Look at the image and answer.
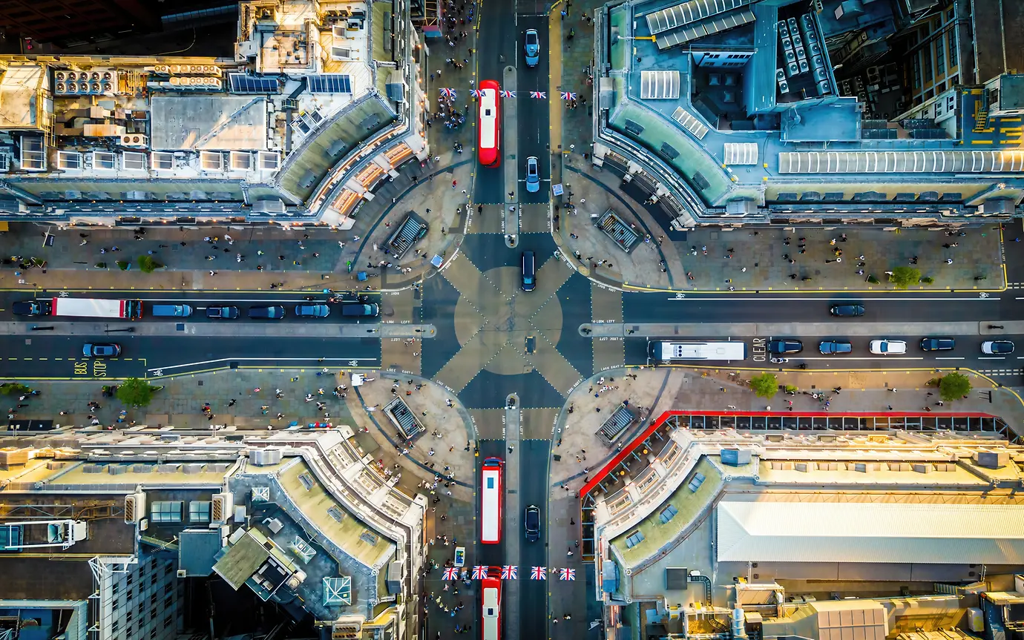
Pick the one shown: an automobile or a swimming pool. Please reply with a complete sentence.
It is an automobile that can be seen here.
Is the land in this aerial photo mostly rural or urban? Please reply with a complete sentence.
This place is urban.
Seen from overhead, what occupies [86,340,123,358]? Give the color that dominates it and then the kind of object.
blue car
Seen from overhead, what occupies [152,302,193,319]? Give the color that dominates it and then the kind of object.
blue vehicle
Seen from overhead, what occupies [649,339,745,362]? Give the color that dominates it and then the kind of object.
white bus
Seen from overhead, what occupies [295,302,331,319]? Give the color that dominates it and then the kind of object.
blue car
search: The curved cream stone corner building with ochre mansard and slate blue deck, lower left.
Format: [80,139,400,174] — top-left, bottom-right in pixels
[0,425,426,640]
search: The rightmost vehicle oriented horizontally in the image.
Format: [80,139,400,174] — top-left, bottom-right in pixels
[977,339,1012,355]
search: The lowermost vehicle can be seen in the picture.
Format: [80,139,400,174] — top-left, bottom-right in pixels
[479,568,503,640]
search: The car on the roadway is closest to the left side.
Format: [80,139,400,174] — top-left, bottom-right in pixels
[16,300,53,317]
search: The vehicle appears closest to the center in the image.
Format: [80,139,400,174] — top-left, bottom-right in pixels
[519,252,537,290]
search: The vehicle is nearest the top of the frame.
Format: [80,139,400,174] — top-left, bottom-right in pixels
[523,32,539,67]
